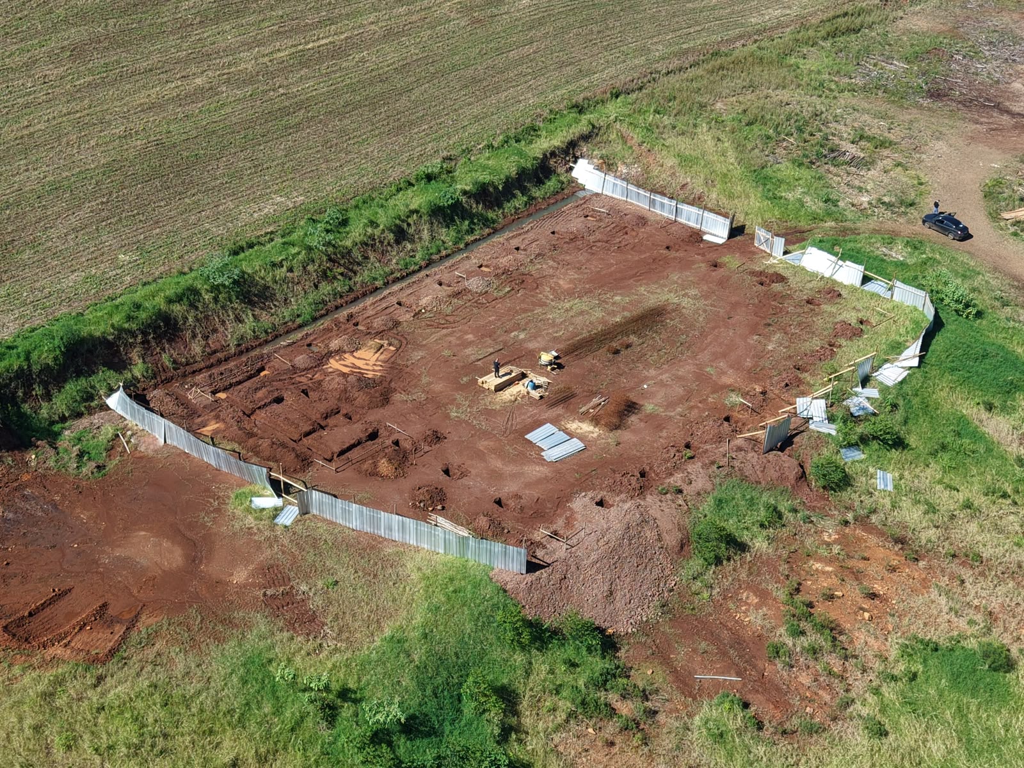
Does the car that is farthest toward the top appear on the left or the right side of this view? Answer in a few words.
right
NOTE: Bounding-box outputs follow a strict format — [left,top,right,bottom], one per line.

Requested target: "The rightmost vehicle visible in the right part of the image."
[922,207,974,239]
